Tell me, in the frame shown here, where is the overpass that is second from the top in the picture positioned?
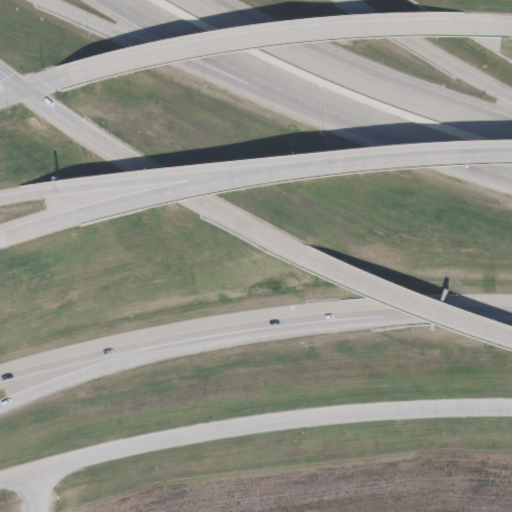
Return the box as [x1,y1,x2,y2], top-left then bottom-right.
[22,140,512,226]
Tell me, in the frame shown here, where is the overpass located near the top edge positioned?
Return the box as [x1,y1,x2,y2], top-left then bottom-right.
[58,12,470,90]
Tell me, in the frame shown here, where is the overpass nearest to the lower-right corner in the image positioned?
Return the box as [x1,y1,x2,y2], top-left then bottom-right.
[307,250,512,350]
